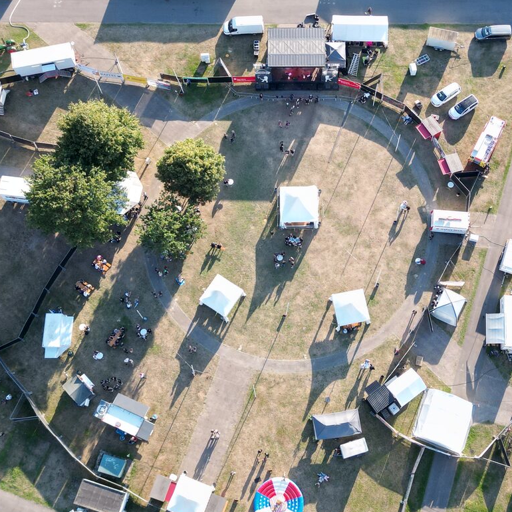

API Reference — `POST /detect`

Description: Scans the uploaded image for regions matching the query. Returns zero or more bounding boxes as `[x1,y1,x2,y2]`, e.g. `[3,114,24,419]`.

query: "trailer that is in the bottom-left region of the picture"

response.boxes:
[91,388,160,443]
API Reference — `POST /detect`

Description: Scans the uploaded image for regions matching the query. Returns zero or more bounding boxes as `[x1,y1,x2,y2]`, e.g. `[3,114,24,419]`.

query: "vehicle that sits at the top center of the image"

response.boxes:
[222,12,265,34]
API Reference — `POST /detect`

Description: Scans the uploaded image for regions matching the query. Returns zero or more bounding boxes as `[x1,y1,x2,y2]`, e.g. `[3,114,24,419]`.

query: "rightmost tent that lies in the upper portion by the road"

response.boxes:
[332,15,389,50]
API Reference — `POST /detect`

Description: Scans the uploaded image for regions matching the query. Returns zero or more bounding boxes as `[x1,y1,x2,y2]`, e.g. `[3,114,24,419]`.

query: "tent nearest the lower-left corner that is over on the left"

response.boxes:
[62,371,102,409]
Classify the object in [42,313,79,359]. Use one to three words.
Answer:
tent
